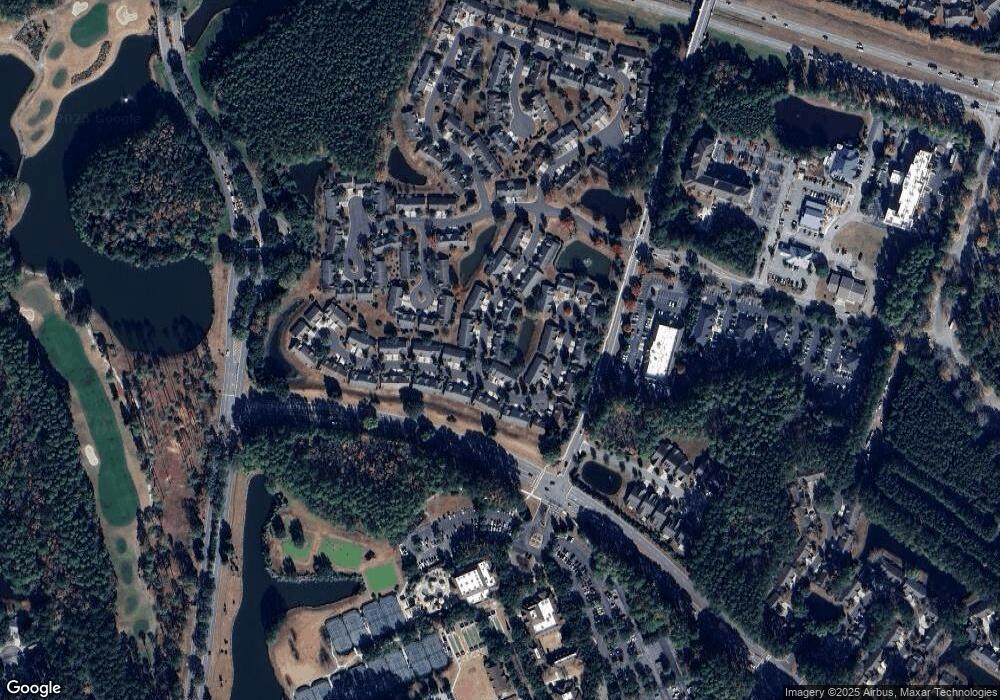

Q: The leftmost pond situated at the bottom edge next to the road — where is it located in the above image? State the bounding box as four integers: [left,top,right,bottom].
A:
[229,474,365,700]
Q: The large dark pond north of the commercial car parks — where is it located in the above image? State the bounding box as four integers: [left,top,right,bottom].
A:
[773,95,864,150]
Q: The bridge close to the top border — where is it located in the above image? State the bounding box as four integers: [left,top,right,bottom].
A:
[685,0,711,58]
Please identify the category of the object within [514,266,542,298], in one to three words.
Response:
house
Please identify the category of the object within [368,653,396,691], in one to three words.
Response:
tennis court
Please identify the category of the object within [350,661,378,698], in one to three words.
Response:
tennis court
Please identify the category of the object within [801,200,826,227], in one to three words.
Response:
building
